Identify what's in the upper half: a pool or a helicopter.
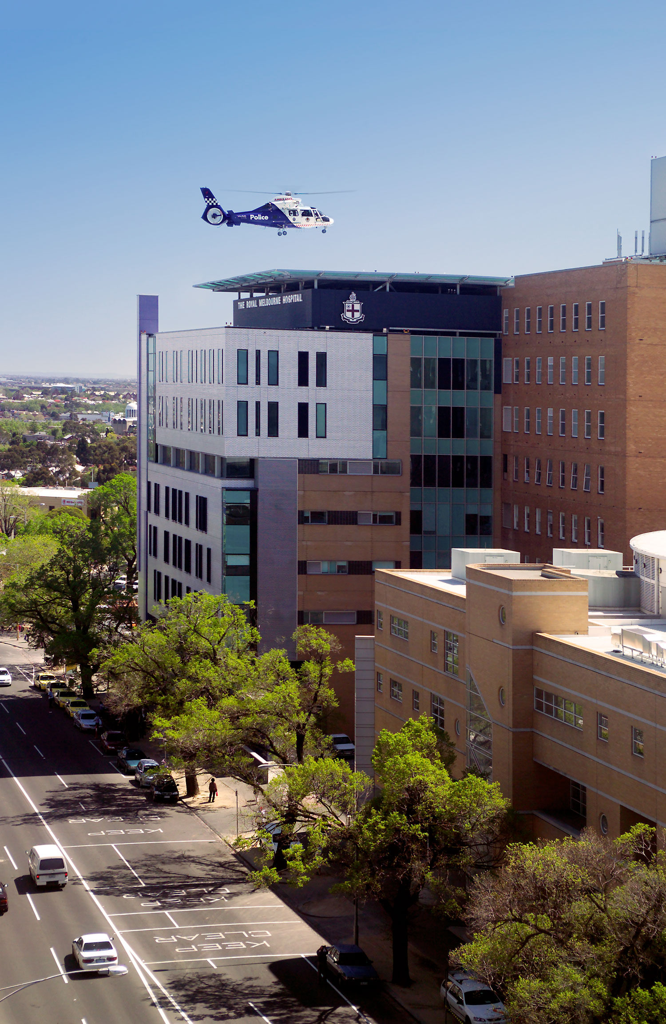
helicopter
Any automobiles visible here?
Yes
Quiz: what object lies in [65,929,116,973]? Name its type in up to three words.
car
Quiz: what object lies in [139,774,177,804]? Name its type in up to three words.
car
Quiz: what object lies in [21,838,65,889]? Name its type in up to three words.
van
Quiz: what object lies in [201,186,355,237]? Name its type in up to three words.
helicopter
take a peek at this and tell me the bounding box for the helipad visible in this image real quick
[213,275,497,292]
